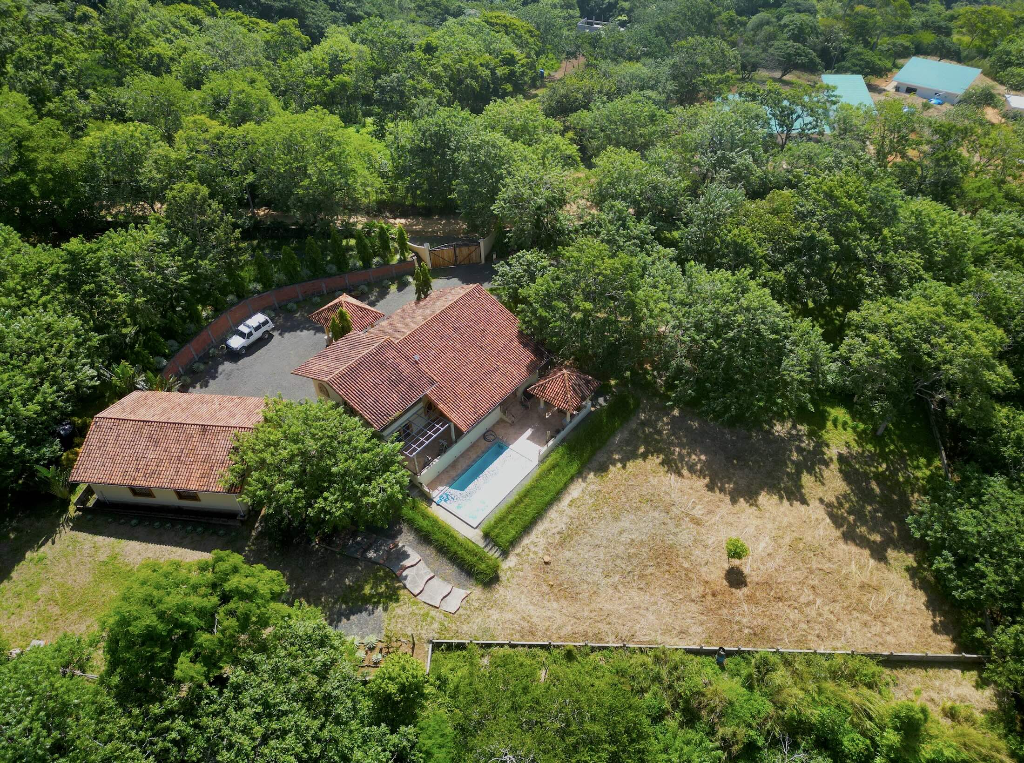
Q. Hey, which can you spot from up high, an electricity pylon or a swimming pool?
swimming pool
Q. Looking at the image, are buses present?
No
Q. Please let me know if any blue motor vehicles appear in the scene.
No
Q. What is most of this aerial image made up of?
trees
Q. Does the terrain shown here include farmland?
No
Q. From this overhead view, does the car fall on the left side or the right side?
left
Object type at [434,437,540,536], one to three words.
swimming pool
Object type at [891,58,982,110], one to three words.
house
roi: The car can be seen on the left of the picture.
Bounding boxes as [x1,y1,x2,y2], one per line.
[219,311,273,357]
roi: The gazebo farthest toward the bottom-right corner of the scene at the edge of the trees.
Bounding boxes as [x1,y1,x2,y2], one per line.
[524,360,602,425]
